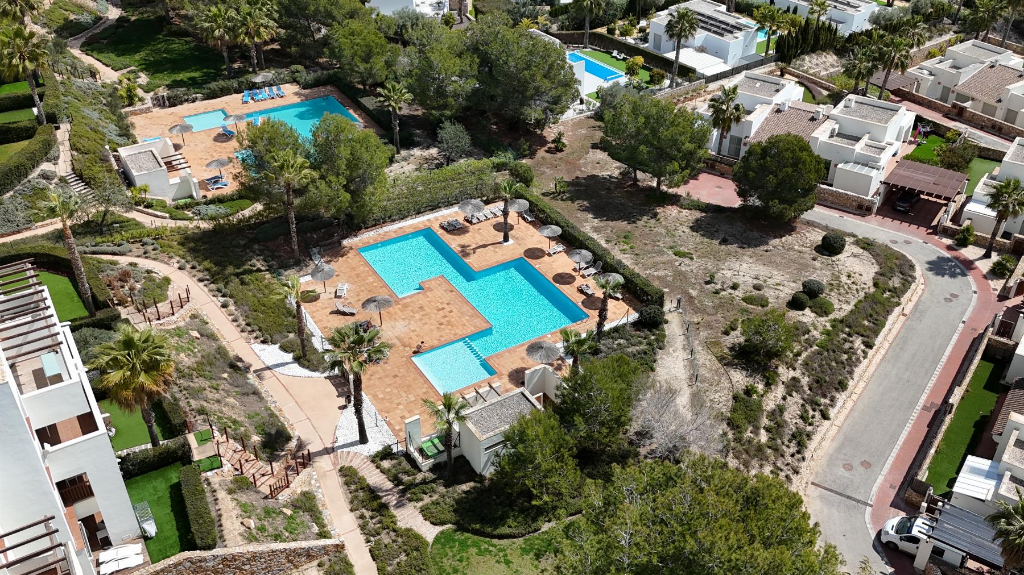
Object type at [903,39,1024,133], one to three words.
house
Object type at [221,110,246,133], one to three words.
umbrella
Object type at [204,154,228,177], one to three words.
umbrella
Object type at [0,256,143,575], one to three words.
building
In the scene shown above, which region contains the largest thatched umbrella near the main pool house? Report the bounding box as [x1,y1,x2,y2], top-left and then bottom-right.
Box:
[523,334,560,365]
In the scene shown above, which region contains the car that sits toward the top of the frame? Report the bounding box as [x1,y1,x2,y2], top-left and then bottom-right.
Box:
[890,188,922,211]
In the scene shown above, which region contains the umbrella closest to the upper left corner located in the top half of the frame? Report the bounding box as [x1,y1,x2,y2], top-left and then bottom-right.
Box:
[166,121,192,144]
